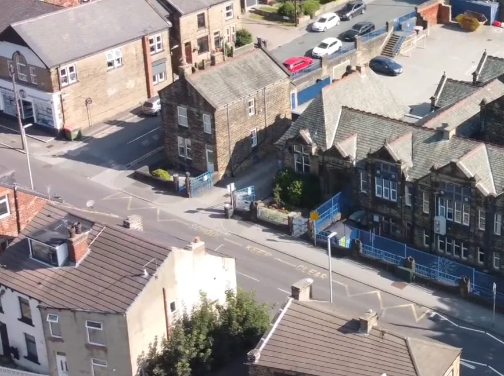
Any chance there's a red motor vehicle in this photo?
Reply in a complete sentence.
Yes, a red motor vehicle appears in the view.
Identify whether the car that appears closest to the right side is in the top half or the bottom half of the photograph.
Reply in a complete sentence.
You can find the car that appears closest to the right side in the top half.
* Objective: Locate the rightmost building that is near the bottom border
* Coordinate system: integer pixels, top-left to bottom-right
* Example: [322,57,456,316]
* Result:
[246,247,466,376]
